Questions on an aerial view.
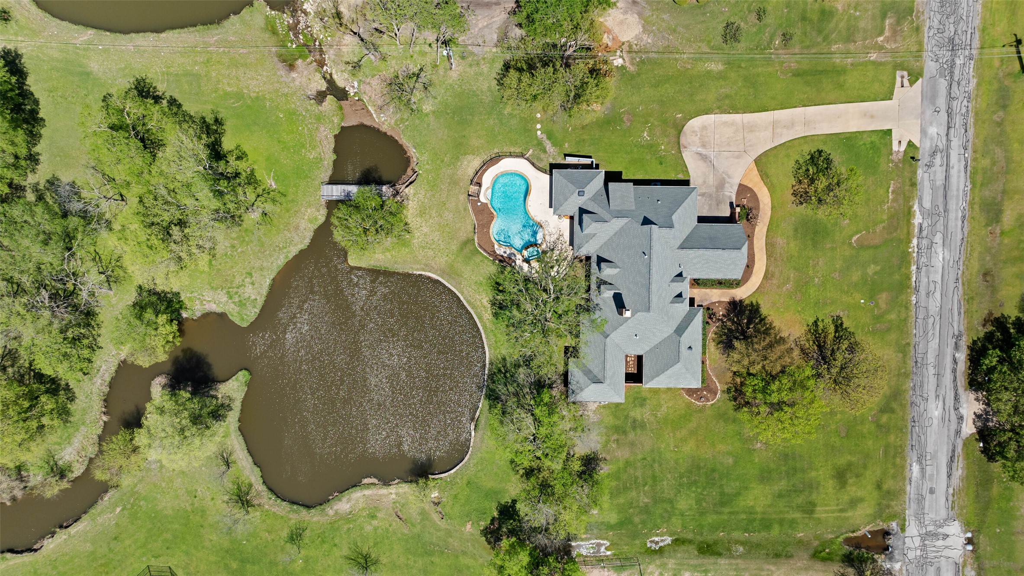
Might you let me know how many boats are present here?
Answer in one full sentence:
There are no boats in this view.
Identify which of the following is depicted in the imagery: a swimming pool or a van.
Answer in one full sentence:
Of the two, only a swimming pool appears.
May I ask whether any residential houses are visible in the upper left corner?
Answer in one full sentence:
No, no residential house is visible in the upper left corner.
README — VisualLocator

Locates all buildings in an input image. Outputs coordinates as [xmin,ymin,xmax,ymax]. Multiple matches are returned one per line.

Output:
[552,169,748,402]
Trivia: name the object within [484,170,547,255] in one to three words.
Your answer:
swimming pool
